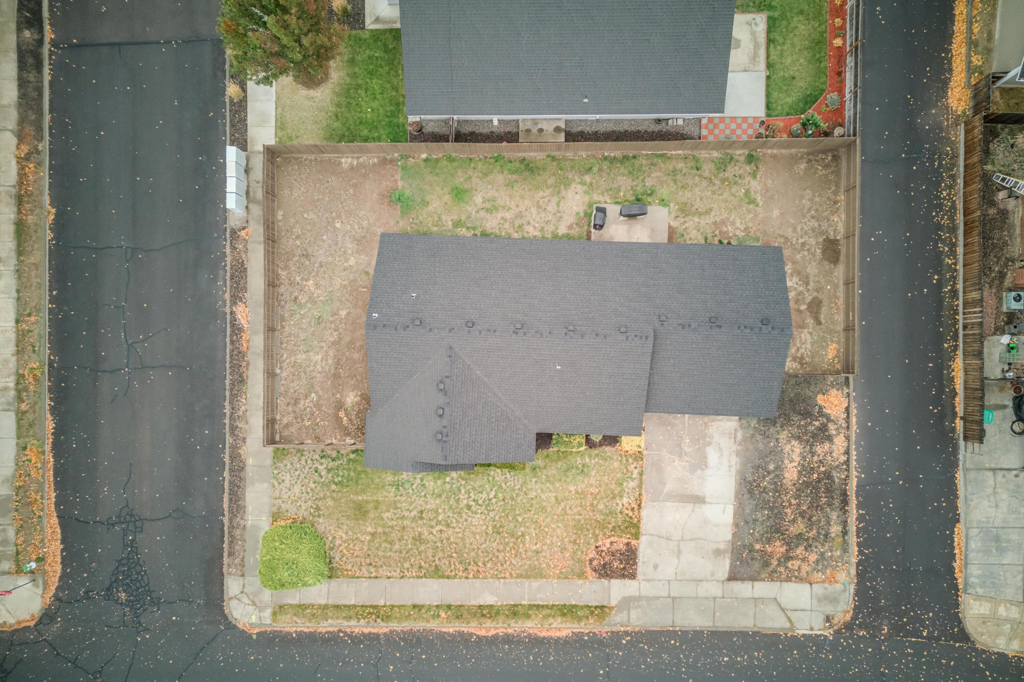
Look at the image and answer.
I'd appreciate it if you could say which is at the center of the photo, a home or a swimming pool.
home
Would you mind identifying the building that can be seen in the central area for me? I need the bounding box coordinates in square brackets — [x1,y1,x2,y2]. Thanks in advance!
[365,234,794,473]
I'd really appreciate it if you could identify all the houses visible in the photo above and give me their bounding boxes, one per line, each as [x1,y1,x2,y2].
[365,234,794,473]
[389,0,737,127]
[991,0,1024,87]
